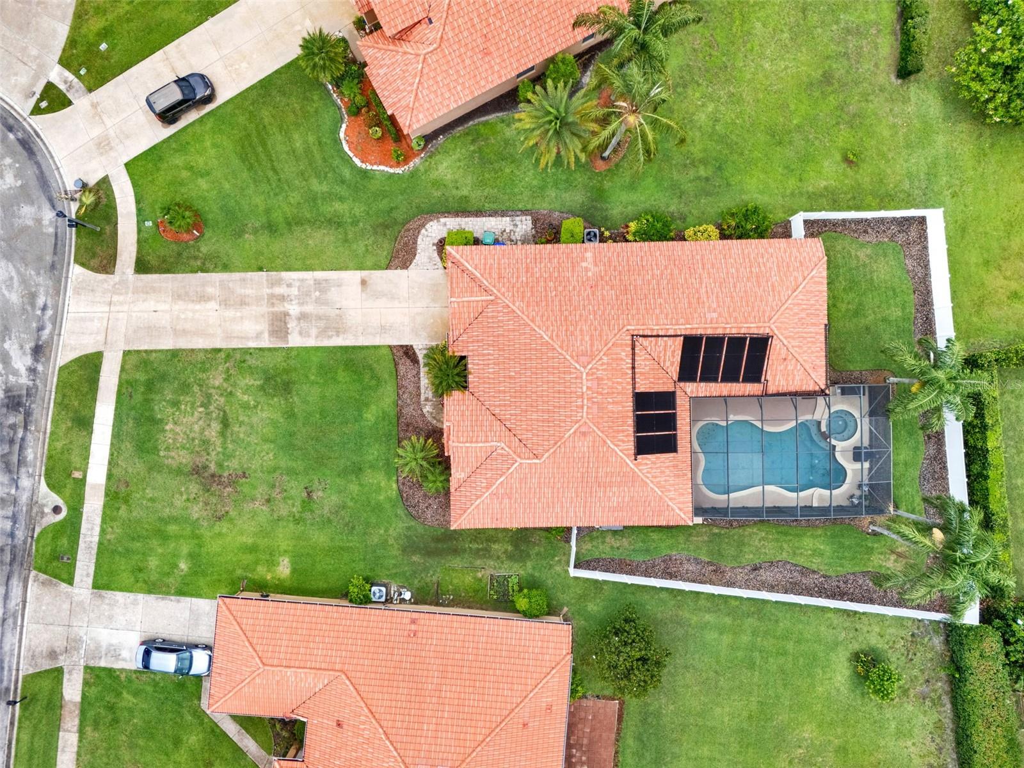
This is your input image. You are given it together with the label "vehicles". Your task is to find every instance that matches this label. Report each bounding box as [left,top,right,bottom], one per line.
[136,636,212,678]
[143,72,216,125]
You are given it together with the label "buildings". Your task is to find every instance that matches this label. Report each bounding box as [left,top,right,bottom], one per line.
[442,237,830,531]
[206,580,574,768]
[355,0,681,140]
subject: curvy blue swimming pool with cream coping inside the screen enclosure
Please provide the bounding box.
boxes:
[693,404,866,500]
